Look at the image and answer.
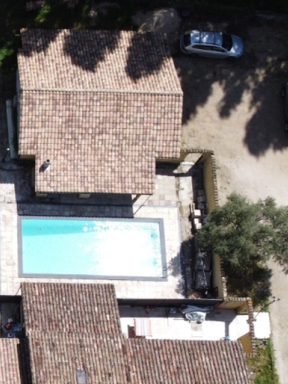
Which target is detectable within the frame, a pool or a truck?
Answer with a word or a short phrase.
pool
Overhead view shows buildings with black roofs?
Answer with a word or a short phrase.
No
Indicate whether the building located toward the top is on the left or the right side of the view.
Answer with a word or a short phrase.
left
